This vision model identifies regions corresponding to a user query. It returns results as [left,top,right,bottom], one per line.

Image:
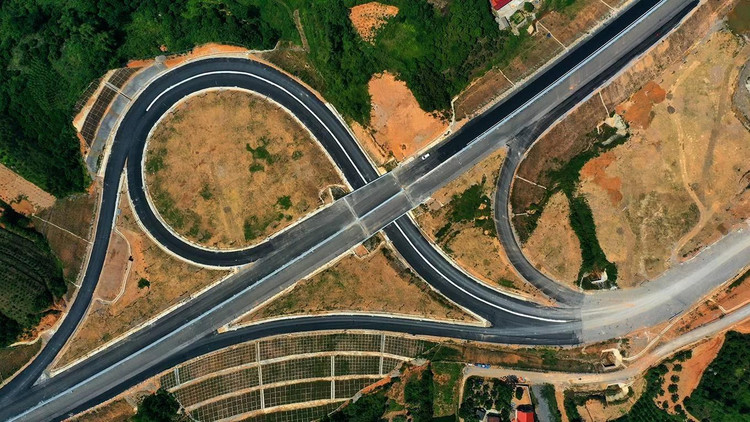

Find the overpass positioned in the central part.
[344,173,414,237]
